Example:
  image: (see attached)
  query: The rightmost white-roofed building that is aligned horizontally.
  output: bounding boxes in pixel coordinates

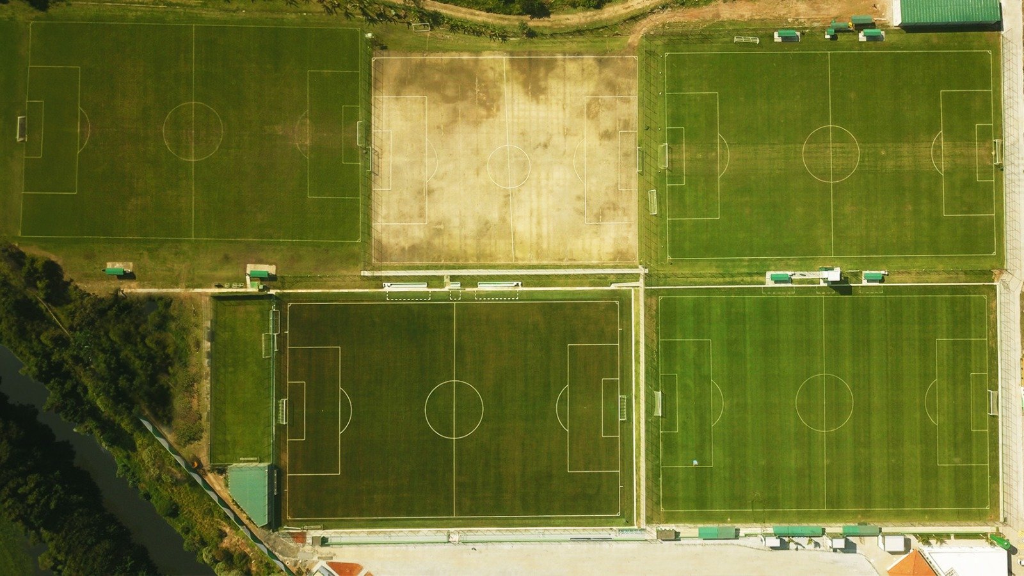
[913,545,1009,576]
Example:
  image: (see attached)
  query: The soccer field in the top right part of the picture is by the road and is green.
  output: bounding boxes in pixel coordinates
[664,50,997,260]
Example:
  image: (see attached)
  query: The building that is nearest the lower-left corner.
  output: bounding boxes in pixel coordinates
[227,462,271,527]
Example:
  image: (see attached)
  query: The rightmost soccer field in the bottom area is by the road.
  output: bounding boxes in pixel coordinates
[658,294,991,512]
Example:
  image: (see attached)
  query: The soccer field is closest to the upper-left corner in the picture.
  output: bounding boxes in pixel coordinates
[20,21,362,244]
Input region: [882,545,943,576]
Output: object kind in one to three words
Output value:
house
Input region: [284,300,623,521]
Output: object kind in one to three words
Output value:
soccer field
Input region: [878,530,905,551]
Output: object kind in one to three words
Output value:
building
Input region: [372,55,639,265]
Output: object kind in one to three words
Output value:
soccer field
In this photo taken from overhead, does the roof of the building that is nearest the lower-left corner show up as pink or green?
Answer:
green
